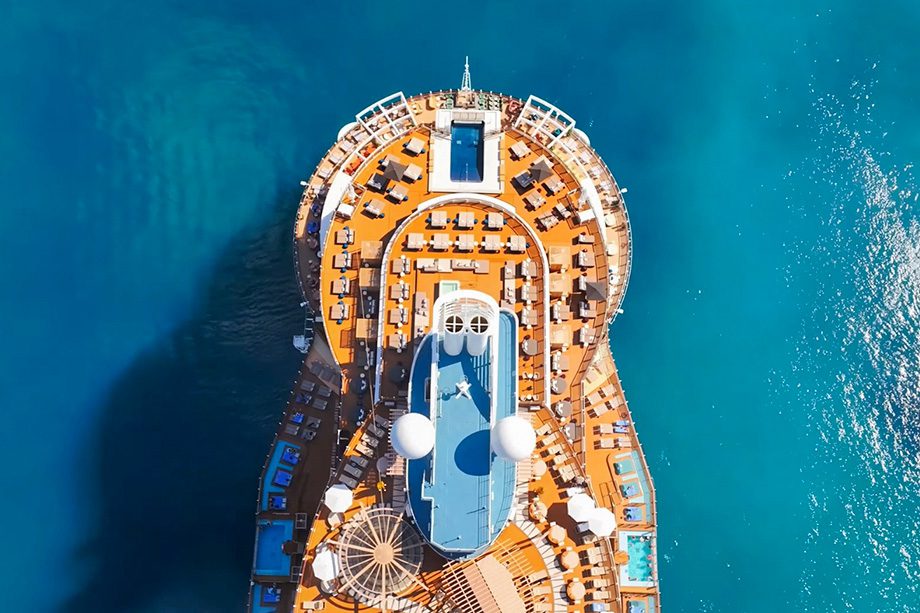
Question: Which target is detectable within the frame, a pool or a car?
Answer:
pool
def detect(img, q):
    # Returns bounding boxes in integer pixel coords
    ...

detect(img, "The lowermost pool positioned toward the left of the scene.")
[252,585,288,613]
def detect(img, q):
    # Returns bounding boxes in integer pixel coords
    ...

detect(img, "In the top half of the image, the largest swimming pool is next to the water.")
[427,109,506,194]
